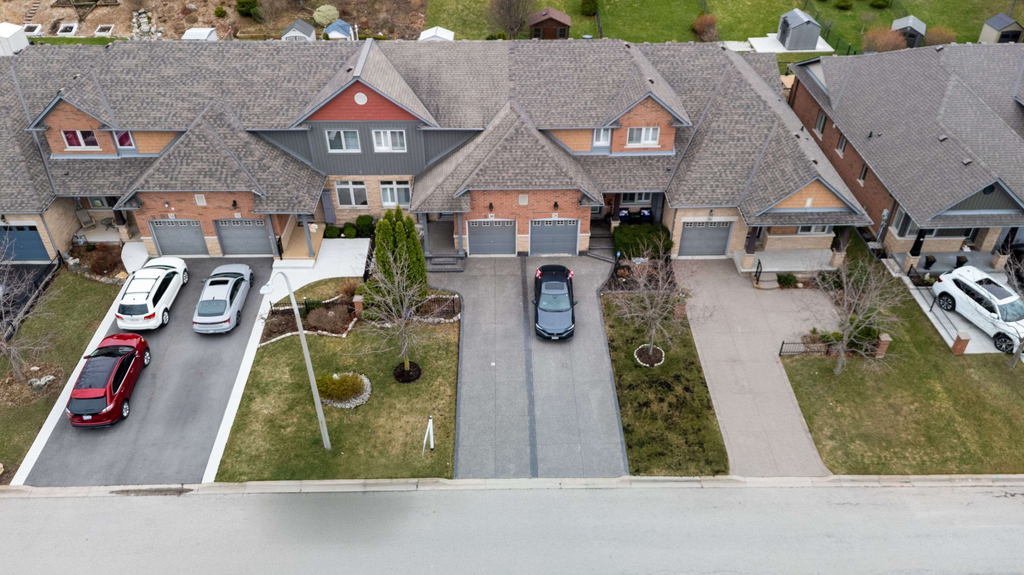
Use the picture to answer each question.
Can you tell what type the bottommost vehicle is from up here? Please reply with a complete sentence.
What you see as the bottommost vehicle is an automobile.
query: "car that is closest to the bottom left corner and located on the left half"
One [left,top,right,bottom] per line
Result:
[68,334,151,422]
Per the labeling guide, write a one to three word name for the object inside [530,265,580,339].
car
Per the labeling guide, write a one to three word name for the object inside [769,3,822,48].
shed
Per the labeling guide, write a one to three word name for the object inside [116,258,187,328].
car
